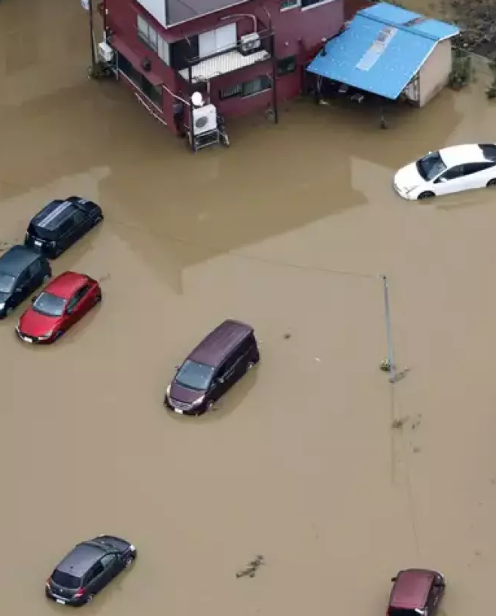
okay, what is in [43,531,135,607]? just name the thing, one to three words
car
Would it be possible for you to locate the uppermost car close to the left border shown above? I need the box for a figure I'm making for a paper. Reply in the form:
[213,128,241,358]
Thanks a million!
[20,190,106,257]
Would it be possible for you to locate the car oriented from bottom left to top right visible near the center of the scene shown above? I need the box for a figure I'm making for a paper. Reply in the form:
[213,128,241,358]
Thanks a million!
[163,317,261,415]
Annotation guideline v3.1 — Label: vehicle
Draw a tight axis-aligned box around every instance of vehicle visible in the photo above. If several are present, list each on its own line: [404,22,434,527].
[0,240,52,316]
[395,569,451,616]
[43,531,135,607]
[20,190,106,257]
[14,263,103,343]
[391,140,496,197]
[163,317,261,415]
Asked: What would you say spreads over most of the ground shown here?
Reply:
water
